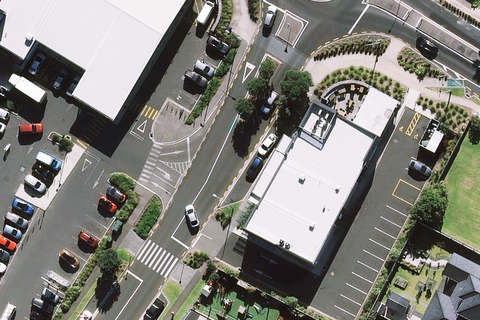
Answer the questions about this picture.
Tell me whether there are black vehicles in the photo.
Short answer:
Yes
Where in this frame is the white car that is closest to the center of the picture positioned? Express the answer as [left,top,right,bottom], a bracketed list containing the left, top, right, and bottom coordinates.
[258,132,276,156]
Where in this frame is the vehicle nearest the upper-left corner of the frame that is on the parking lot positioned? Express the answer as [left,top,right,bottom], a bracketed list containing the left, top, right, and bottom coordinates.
[28,52,46,76]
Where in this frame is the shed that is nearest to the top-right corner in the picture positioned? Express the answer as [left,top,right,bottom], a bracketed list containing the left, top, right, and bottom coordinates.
[418,119,444,154]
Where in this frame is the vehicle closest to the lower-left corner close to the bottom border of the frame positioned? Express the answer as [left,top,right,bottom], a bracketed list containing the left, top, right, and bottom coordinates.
[0,302,16,320]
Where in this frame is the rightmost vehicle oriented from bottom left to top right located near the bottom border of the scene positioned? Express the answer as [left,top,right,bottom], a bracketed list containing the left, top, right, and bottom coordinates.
[144,298,164,320]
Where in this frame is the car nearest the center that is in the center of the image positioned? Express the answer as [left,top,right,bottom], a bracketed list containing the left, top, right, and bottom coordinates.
[244,156,264,181]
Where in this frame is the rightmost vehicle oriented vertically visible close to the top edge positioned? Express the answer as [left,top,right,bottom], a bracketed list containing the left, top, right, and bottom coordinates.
[262,7,276,29]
